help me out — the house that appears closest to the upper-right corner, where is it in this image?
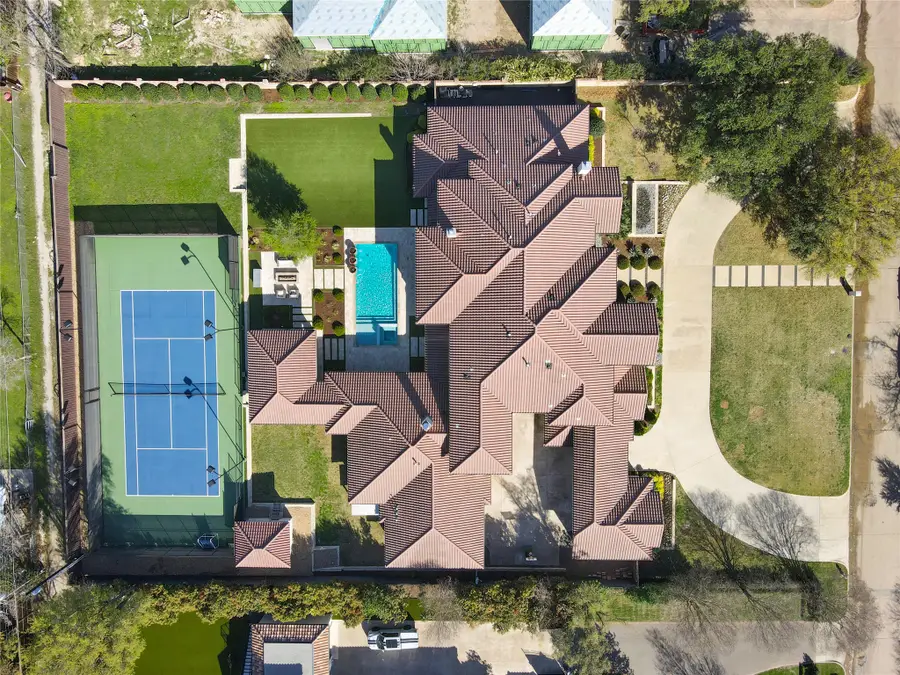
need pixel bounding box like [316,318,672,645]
[529,0,612,49]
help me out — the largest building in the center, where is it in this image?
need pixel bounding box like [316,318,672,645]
[247,103,664,570]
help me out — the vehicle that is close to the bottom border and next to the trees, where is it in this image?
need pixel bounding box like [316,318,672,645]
[368,628,418,653]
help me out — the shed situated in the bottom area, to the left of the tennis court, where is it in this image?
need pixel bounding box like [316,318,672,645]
[0,465,47,508]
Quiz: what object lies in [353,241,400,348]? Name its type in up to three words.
swimming pool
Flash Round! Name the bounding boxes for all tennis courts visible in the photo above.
[96,236,245,546]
